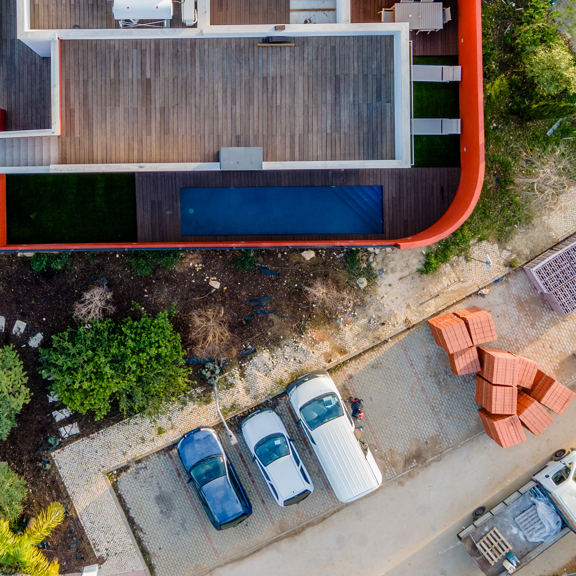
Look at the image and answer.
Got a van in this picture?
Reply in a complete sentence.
Yes, there's a van here.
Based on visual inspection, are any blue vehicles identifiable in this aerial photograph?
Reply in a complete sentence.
Yes, a blue vehicle appears in the view.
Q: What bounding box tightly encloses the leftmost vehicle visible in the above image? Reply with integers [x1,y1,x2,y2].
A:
[177,420,259,538]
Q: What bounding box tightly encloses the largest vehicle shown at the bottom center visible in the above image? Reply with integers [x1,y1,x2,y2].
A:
[283,360,397,519]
